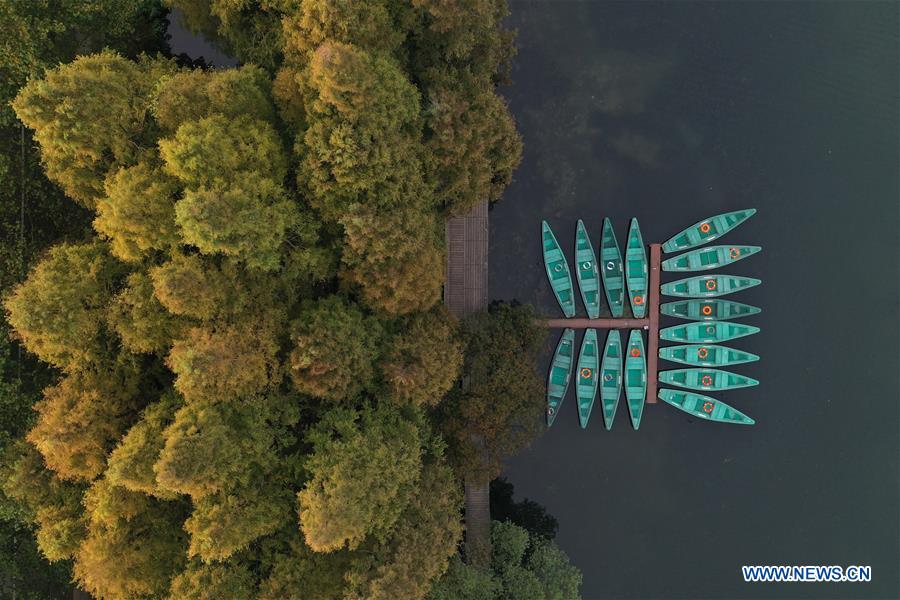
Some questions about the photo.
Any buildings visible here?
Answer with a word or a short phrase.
No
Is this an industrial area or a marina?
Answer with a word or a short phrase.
marina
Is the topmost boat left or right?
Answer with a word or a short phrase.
right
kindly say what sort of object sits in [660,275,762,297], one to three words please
boat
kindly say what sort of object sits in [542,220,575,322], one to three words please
boat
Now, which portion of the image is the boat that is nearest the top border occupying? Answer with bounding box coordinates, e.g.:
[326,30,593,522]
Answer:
[658,209,757,254]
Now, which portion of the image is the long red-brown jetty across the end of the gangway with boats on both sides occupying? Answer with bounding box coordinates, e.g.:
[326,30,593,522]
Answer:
[645,242,662,403]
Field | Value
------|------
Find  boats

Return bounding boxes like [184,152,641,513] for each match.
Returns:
[625,326,647,430]
[656,388,756,423]
[576,329,599,430]
[542,220,575,322]
[600,329,622,430]
[660,245,762,271]
[656,369,759,391]
[658,209,757,254]
[657,299,761,321]
[547,328,575,428]
[600,218,624,318]
[660,275,762,297]
[658,322,761,343]
[576,220,599,323]
[626,218,648,320]
[657,344,760,366]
